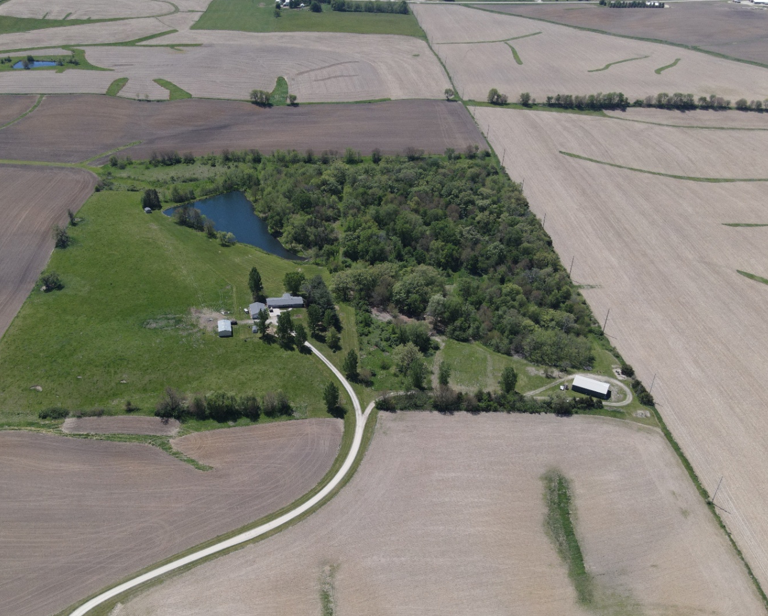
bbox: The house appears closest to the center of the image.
[266,287,305,308]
